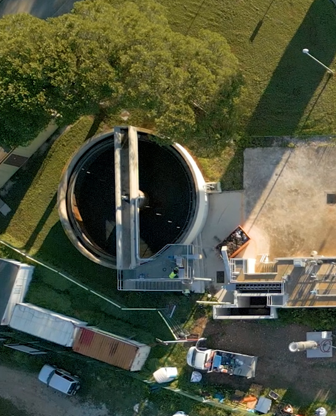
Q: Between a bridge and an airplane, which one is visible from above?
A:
bridge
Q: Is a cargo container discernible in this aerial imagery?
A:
Yes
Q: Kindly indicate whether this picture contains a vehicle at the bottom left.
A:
Yes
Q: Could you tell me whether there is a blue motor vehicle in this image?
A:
Yes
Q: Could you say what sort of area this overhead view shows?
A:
industrial area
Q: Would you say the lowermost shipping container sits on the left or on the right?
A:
left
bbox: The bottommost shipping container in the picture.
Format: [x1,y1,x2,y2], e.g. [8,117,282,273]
[71,325,157,372]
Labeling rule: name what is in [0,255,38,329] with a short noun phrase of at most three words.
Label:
shipping container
